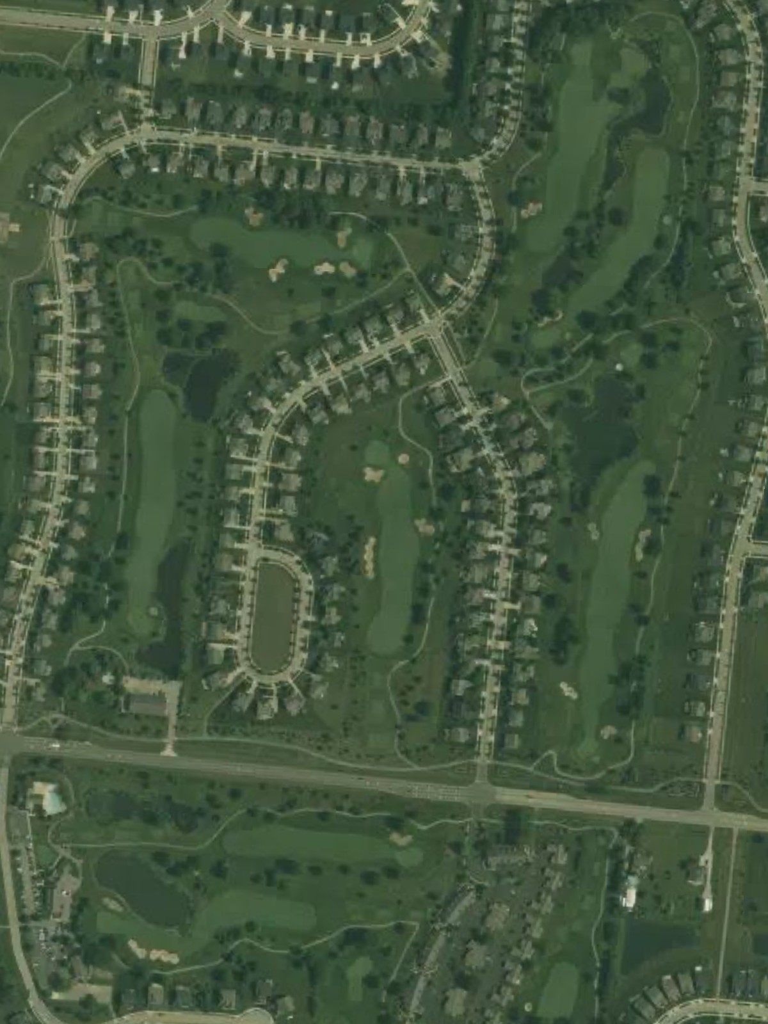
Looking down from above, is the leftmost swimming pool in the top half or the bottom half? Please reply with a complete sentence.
The leftmost swimming pool is in the bottom half of the image.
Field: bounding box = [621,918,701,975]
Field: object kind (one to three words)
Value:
pond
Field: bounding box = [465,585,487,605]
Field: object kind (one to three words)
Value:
house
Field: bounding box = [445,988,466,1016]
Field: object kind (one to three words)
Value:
building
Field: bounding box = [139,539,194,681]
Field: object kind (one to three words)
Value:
pond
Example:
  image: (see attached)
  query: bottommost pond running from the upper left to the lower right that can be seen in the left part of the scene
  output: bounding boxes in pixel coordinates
[94,847,190,930]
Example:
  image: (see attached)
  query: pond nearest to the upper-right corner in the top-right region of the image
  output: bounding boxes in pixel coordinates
[598,66,671,194]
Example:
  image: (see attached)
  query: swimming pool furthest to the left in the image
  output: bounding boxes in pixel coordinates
[27,782,66,815]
